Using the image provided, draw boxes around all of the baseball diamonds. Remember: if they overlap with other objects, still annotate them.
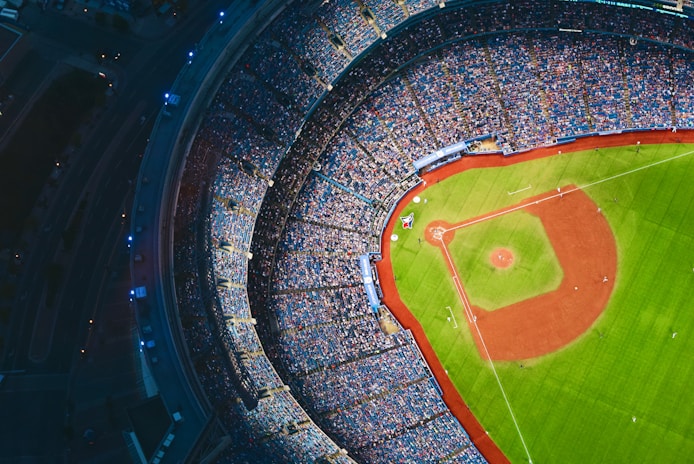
[379,133,694,464]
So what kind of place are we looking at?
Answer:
sports ground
